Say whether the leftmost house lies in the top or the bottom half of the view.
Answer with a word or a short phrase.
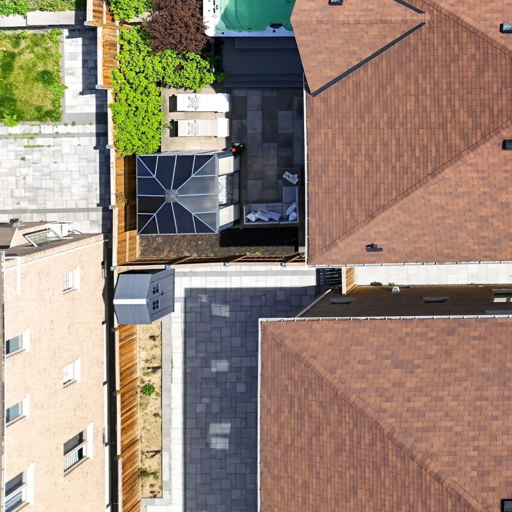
bottom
